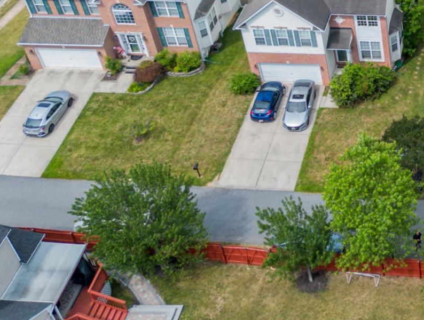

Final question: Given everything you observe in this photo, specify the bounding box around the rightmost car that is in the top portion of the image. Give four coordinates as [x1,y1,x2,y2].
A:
[283,80,315,128]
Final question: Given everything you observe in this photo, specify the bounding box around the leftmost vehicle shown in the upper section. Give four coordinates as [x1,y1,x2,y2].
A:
[21,90,72,133]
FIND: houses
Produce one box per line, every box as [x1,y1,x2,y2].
[0,224,130,320]
[234,0,414,87]
[12,0,233,75]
